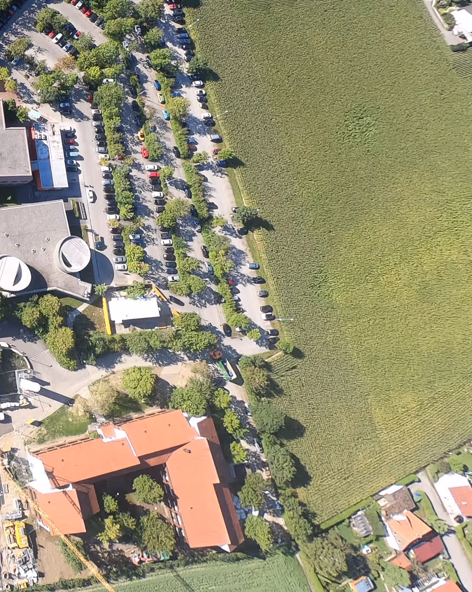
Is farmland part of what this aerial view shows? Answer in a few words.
Yes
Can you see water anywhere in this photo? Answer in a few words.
No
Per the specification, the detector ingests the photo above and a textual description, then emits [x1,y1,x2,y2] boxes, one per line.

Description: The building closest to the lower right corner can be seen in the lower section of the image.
[414,558,461,592]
